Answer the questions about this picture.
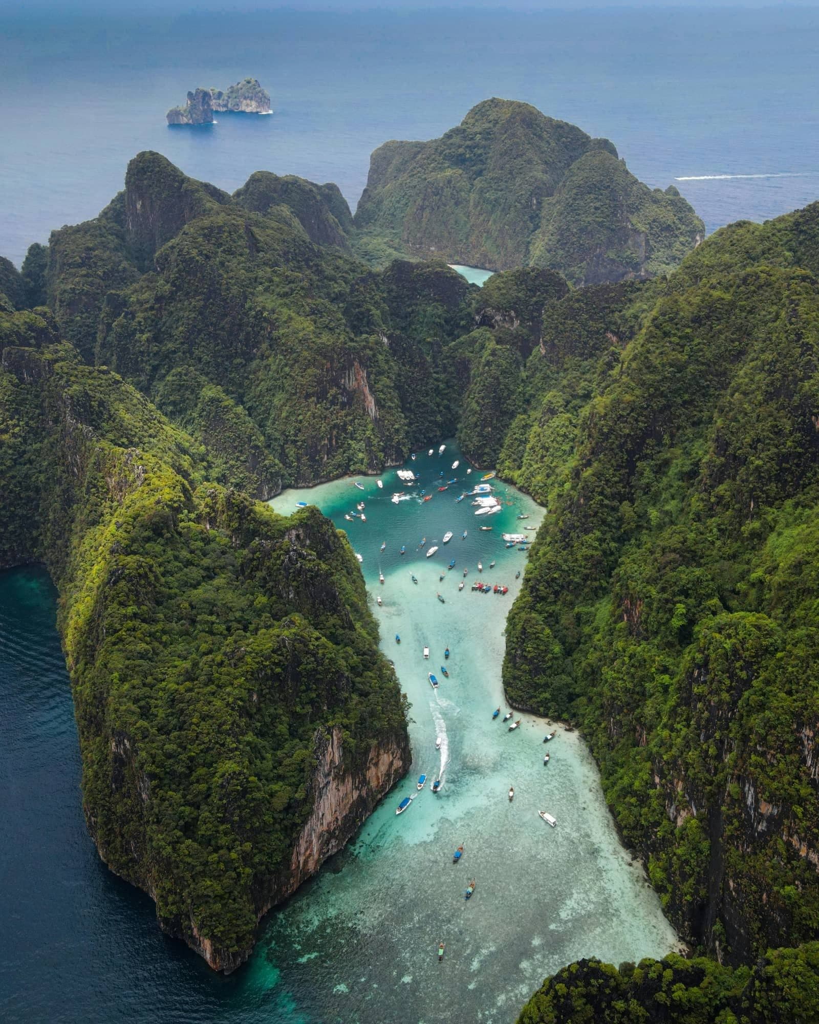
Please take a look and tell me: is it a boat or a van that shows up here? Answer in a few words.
boat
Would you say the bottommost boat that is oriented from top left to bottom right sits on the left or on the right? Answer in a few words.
right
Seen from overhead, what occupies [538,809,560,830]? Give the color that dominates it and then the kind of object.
white boat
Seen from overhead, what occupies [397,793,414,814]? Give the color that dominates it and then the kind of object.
blue boat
